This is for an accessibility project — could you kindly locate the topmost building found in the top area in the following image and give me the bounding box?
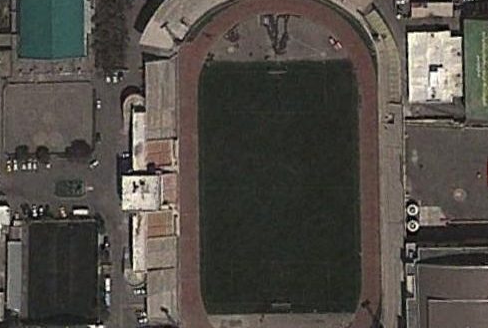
[411,1,453,18]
